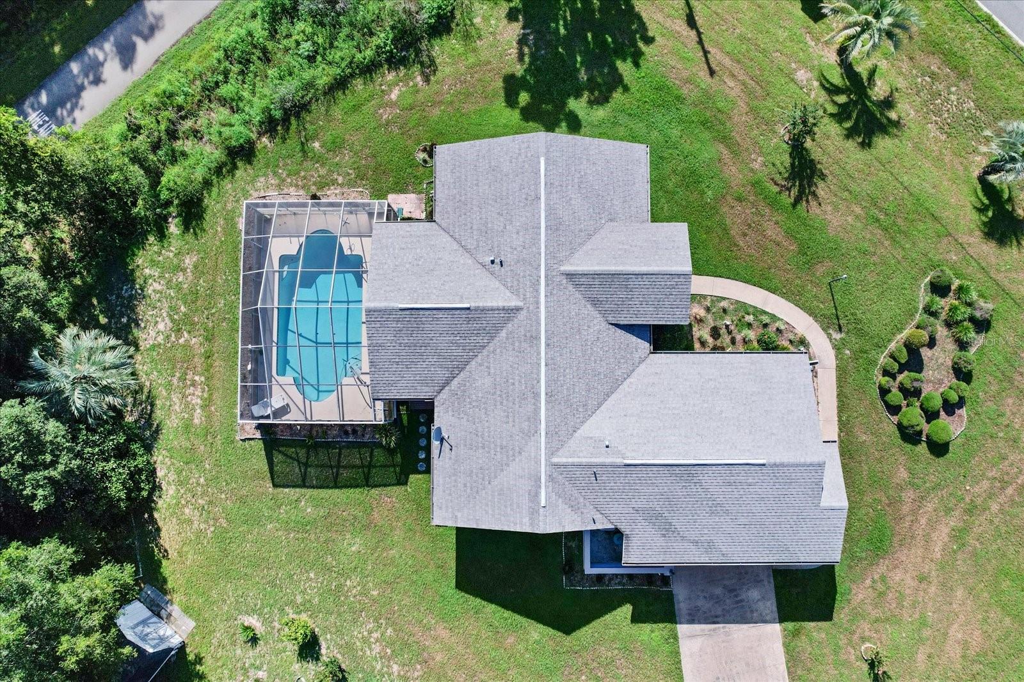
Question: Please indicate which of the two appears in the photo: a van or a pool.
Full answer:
It is a pool that can be seen here.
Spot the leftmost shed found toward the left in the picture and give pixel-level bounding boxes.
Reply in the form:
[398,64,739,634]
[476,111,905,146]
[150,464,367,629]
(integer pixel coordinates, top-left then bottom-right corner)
[110,594,184,665]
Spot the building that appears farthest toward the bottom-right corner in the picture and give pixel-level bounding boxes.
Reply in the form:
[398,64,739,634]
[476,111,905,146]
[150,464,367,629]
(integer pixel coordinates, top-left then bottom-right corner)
[365,131,847,567]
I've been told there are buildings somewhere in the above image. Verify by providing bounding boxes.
[110,594,184,665]
[365,131,847,567]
